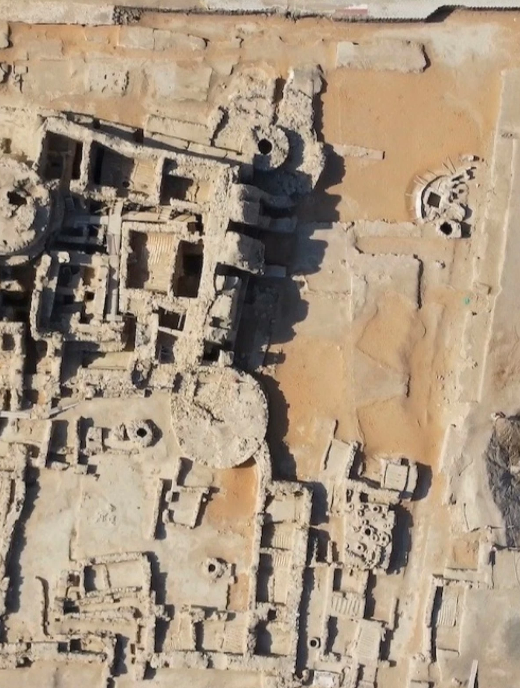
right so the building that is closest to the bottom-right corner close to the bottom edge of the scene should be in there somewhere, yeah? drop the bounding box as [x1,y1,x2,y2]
[300,535,396,688]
